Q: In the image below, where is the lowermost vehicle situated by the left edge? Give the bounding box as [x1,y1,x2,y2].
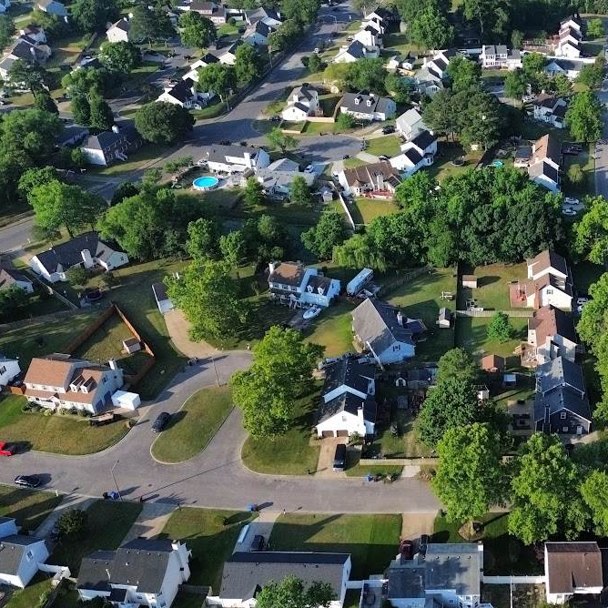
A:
[11,471,46,490]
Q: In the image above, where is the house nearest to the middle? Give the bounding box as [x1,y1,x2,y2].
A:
[266,263,341,310]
